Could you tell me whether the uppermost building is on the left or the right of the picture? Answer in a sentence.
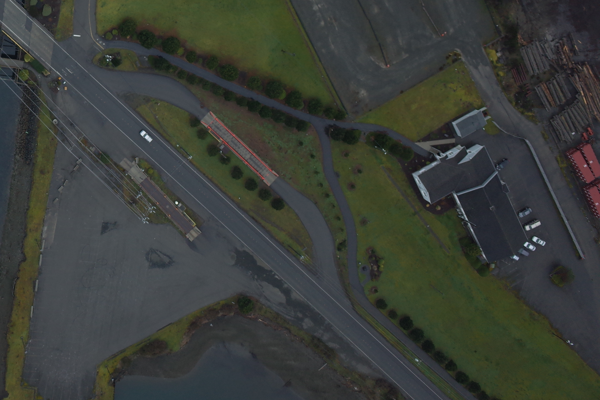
The uppermost building appears in the right half of the scene.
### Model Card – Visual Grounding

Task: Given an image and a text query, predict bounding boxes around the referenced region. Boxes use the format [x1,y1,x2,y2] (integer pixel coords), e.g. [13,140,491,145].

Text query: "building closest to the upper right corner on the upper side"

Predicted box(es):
[451,105,491,138]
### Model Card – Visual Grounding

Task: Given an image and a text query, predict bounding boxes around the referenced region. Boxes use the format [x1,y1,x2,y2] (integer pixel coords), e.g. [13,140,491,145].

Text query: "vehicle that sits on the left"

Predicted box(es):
[139,129,155,145]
